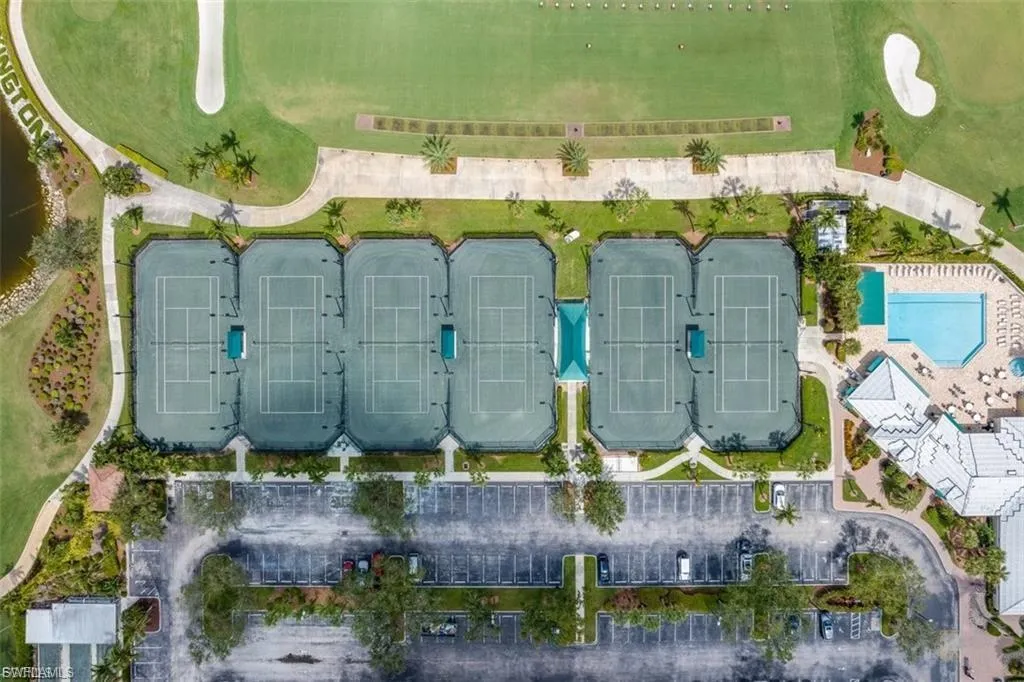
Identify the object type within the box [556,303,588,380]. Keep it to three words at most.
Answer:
building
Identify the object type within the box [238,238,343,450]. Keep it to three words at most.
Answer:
tennis court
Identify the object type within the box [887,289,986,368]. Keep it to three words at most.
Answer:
swimming pool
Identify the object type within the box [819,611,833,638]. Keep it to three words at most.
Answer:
car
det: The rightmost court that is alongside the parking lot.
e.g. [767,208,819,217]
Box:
[693,238,800,449]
